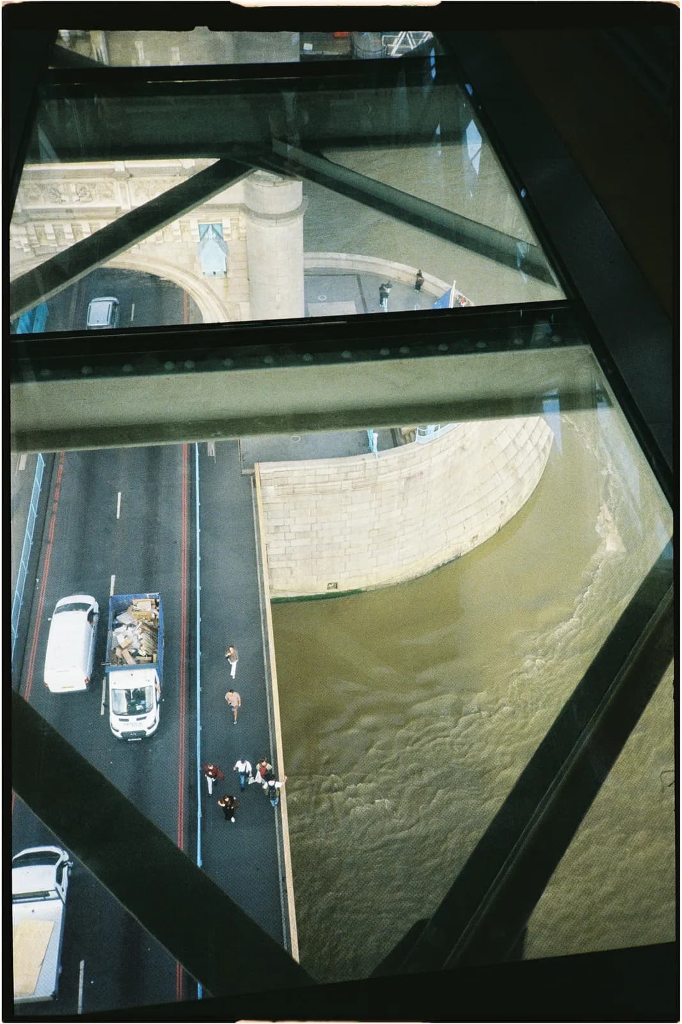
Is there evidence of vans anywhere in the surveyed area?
Yes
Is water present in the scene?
Yes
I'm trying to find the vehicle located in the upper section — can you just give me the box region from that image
[90,299,124,325]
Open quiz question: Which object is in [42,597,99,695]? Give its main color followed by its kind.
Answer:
white van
